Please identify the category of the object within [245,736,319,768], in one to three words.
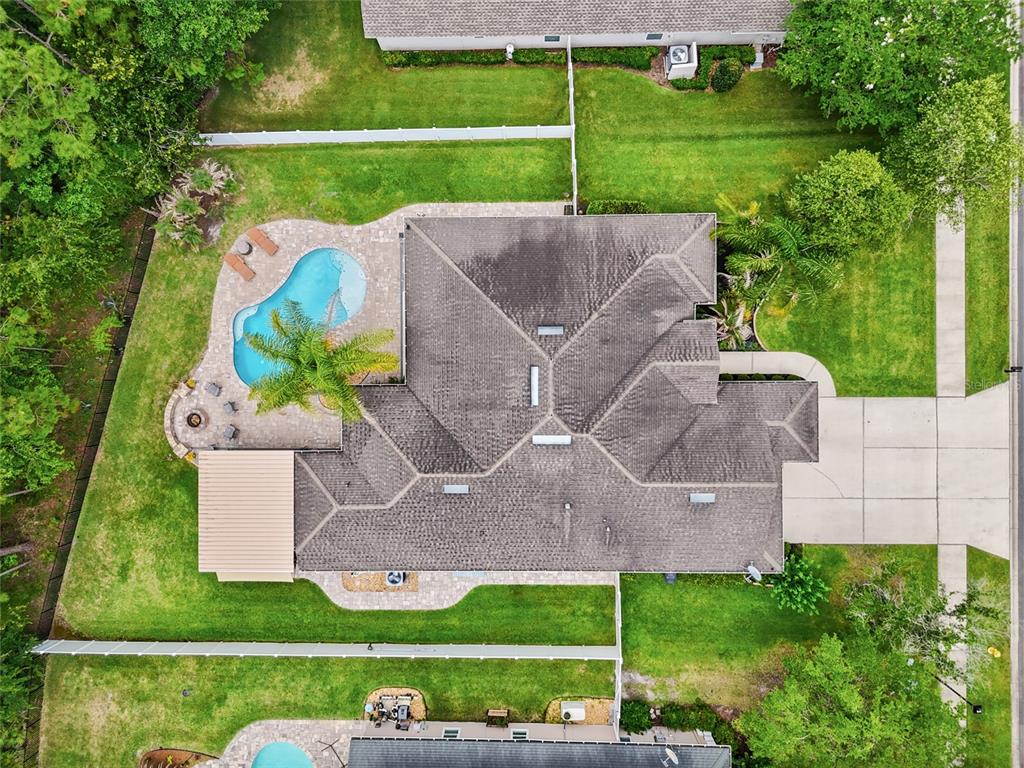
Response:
swimming pool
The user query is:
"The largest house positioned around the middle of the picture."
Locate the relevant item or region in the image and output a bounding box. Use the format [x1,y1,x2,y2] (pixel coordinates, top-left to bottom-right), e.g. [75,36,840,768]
[296,212,820,574]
